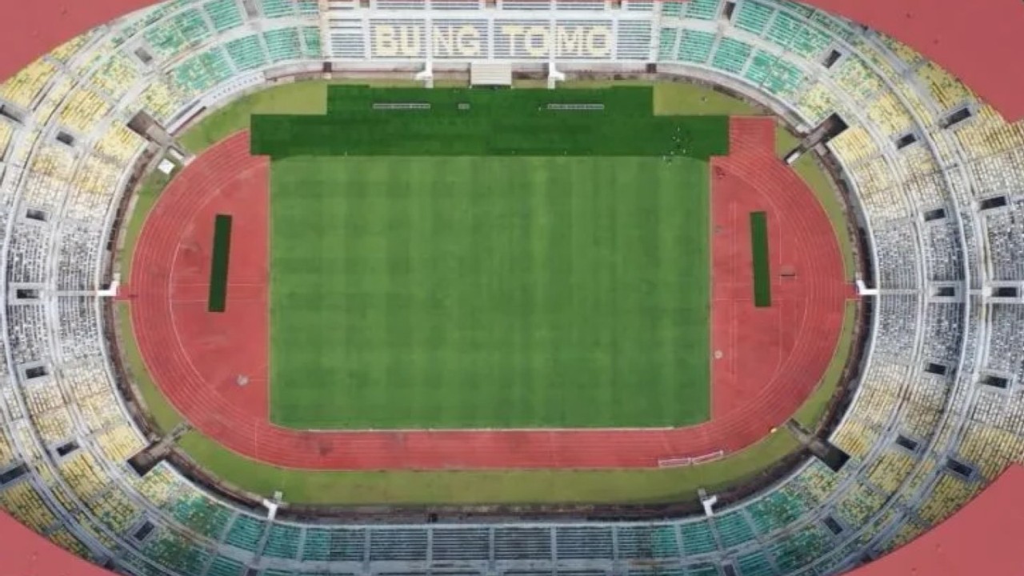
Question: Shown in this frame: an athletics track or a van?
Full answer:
Visible in the photo is an athletics track.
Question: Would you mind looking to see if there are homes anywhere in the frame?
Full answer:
No, there isn't any home down there.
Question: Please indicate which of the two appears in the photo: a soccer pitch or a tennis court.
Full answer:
There is a soccer pitch in the scene.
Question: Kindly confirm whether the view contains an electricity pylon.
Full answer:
No, no electricity pylon is visible in the view.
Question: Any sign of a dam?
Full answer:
No, no dam can be seen from above.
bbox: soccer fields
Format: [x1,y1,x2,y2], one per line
[270,156,712,428]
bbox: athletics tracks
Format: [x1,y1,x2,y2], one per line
[116,118,859,469]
